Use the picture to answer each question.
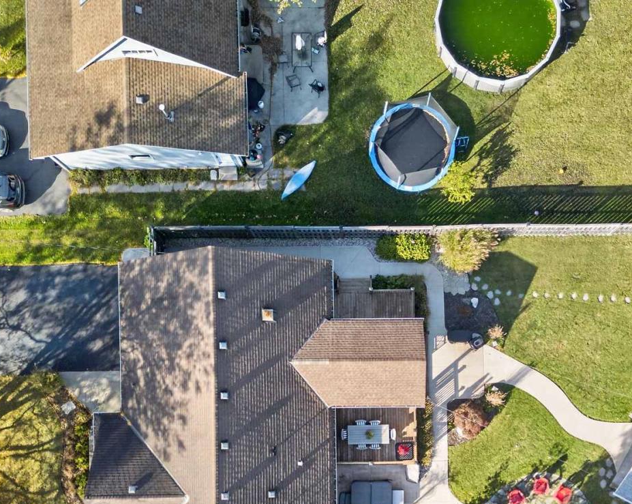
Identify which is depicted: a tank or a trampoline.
trampoline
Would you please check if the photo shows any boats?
Yes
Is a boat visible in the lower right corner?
No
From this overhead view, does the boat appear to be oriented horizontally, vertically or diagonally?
diagonally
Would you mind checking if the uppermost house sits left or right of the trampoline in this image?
on the left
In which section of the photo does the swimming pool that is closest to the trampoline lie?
top right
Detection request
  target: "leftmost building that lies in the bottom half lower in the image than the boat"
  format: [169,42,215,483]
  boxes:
[83,245,427,504]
